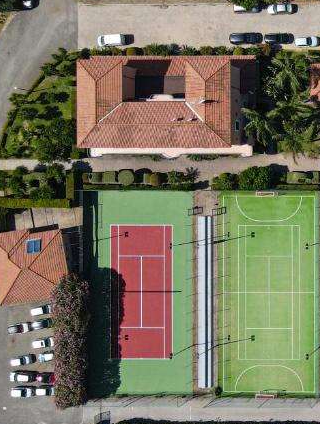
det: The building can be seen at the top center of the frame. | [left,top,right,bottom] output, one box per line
[76,56,266,158]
